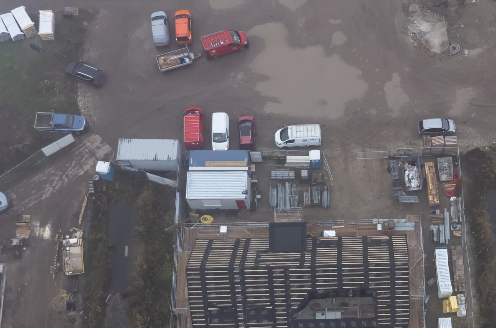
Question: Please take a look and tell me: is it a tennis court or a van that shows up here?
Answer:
van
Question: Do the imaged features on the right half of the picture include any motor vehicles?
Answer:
Yes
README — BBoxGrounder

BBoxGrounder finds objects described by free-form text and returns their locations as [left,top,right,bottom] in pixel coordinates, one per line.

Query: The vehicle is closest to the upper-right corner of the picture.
[418,114,456,136]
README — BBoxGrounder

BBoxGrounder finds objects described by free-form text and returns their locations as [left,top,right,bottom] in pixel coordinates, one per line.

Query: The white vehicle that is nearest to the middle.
[208,110,230,150]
